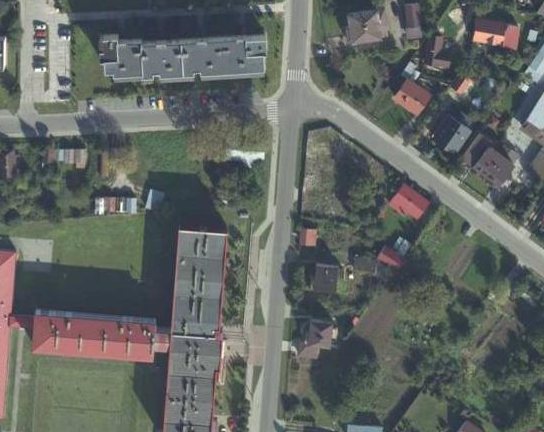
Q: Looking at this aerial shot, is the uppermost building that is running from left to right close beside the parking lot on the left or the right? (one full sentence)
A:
The uppermost building that is running from left to right close beside the parking lot appears in the left half of the scene.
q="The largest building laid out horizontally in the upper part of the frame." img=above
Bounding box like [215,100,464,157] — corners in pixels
[99,34,267,85]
